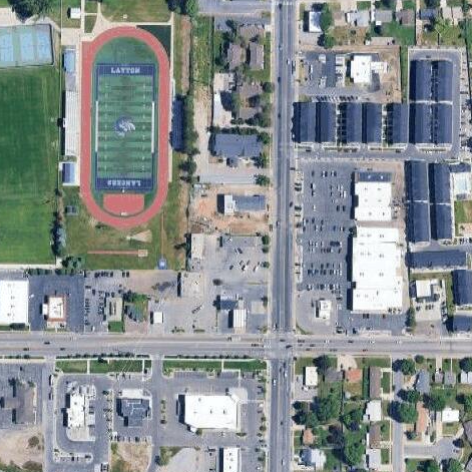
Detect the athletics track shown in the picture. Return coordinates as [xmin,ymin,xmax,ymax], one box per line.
[81,27,170,230]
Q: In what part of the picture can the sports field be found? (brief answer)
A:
top left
